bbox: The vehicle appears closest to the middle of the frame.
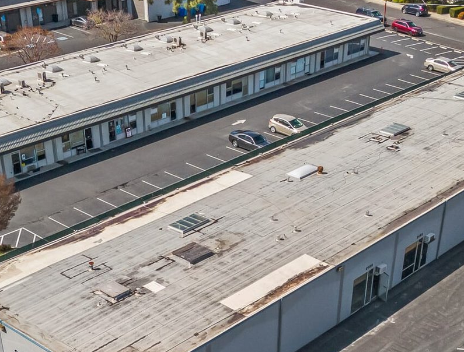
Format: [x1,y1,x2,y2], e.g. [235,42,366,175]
[231,131,269,150]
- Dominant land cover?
buildings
